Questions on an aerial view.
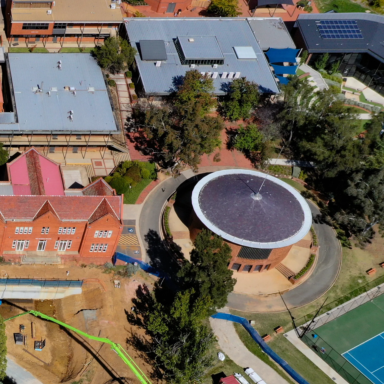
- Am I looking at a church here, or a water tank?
church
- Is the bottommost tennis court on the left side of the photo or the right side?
right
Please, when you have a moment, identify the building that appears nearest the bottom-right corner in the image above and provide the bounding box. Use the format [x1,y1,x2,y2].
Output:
[188,152,313,274]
